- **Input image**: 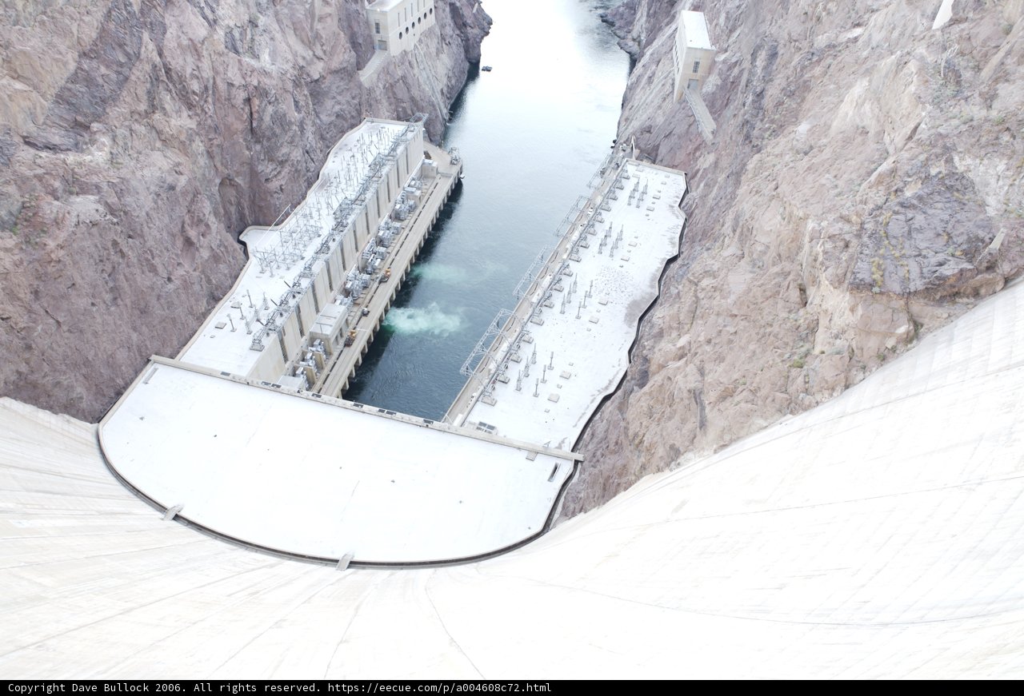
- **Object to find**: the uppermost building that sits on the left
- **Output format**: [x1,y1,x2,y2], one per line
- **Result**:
[366,0,436,74]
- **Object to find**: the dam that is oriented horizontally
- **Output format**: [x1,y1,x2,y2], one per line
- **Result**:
[0,269,1024,696]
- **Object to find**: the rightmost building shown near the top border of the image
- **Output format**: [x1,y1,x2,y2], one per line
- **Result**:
[670,9,715,118]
